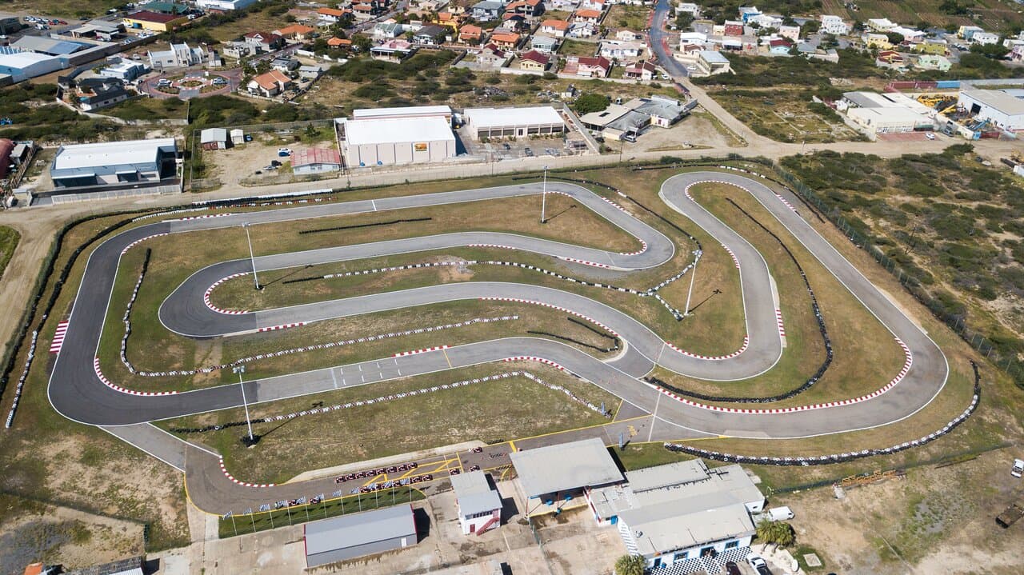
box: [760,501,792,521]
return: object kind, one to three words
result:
vehicle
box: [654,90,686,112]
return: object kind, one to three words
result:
building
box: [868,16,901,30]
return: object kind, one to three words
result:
house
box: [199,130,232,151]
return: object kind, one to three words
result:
shed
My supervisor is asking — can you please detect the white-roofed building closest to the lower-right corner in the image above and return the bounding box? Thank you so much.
[585,457,765,569]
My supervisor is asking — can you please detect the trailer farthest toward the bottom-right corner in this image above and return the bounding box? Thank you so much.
[990,499,1024,533]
